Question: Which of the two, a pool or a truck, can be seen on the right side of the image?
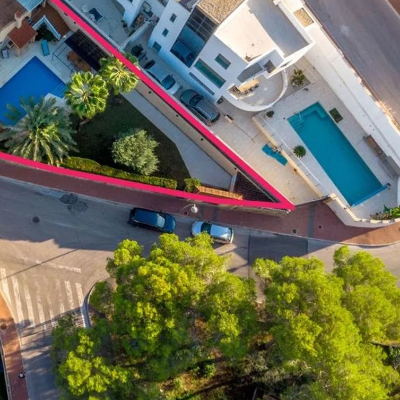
pool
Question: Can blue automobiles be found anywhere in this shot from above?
Yes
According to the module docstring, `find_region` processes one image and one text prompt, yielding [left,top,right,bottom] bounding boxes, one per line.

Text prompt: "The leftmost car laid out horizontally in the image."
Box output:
[125,205,178,234]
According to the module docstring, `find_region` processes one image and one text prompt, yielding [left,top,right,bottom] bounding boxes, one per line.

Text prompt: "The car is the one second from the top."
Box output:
[175,86,225,127]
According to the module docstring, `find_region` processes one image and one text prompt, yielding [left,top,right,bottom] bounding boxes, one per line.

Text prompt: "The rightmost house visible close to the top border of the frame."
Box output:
[150,0,315,124]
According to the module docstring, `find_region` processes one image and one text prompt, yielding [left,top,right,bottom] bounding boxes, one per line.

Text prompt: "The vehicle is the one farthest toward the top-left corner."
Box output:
[139,56,180,97]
